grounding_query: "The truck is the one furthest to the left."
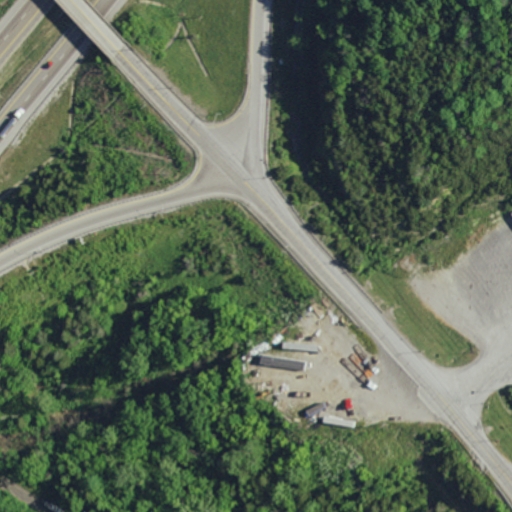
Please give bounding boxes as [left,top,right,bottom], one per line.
[0,108,24,144]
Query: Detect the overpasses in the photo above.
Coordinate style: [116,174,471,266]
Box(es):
[55,0,128,60]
